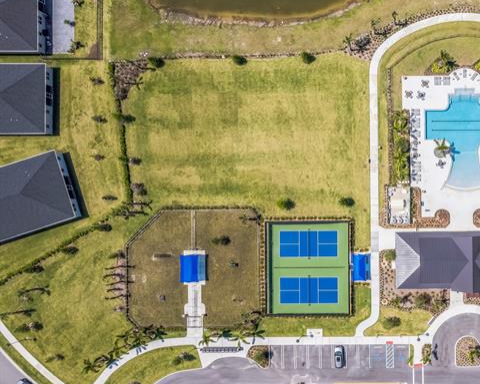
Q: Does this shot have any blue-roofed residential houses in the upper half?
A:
No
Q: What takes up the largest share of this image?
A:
grass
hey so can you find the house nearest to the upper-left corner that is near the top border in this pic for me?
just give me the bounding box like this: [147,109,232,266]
[0,0,44,53]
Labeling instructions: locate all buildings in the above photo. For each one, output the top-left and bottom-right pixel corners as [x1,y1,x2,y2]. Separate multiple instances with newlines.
[0,0,44,53]
[396,231,480,294]
[0,62,52,133]
[0,150,81,242]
